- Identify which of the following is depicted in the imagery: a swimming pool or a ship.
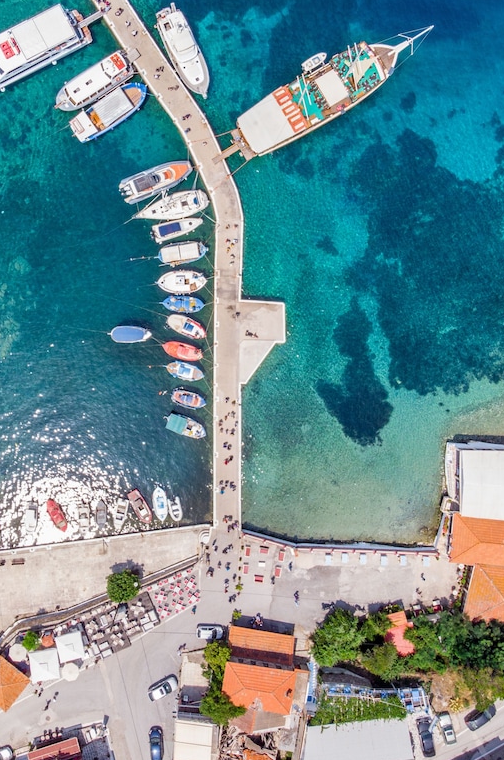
ship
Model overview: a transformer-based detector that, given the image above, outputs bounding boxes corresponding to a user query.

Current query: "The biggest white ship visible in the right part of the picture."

[231,25,434,160]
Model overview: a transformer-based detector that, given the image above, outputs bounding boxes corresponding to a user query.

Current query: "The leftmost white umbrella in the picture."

[10,642,27,659]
